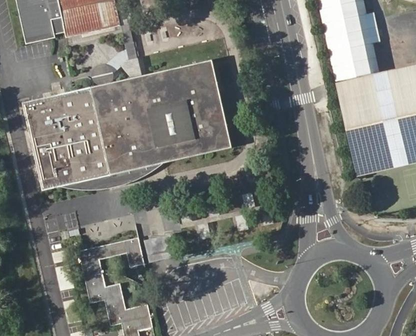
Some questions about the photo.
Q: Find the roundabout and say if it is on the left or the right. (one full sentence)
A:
The roundabout appears in the right half of the scene.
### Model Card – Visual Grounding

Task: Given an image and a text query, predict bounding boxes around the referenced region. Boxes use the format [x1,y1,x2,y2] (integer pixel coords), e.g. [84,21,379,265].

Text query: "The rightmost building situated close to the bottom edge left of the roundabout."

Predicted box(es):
[82,238,154,336]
